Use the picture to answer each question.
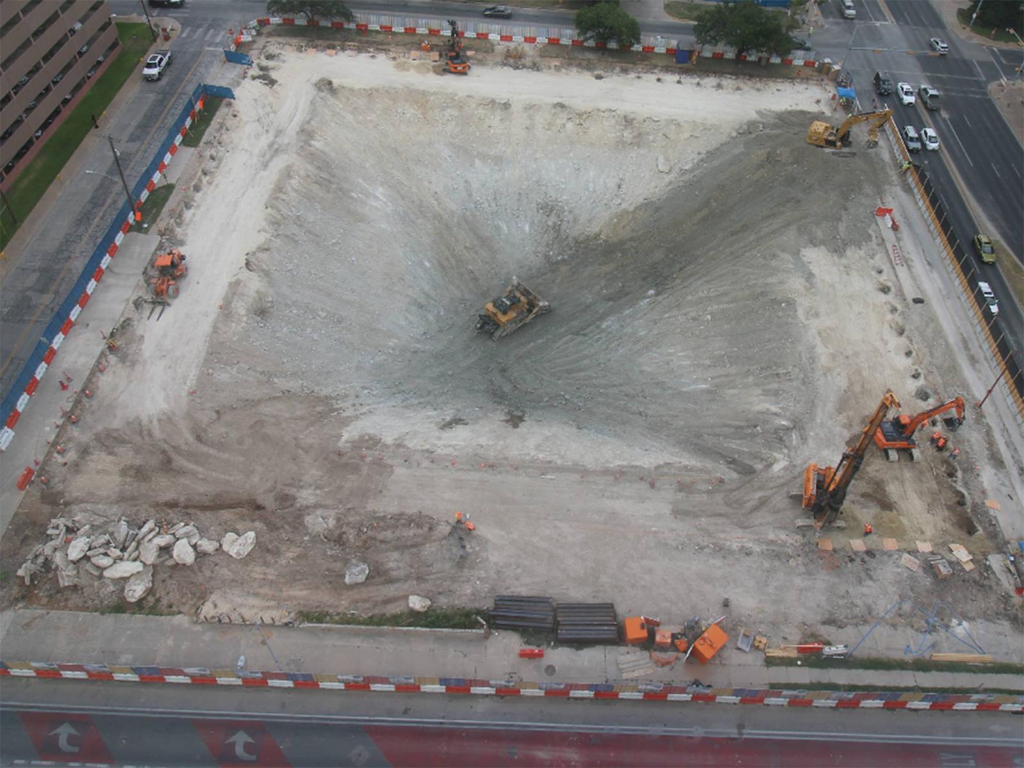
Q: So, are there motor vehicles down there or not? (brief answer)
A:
Yes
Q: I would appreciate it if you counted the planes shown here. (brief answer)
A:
0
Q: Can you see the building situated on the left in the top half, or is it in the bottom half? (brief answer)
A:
top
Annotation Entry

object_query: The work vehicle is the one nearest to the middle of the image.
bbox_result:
[476,266,557,332]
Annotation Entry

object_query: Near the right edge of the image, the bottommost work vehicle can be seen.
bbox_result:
[872,406,973,456]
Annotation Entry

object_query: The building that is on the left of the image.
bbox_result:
[0,0,131,191]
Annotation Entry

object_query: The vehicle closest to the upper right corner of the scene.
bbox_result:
[929,37,951,56]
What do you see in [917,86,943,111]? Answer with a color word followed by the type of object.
gray truck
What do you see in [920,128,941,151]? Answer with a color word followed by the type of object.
white car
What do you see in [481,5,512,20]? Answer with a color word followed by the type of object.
gray car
